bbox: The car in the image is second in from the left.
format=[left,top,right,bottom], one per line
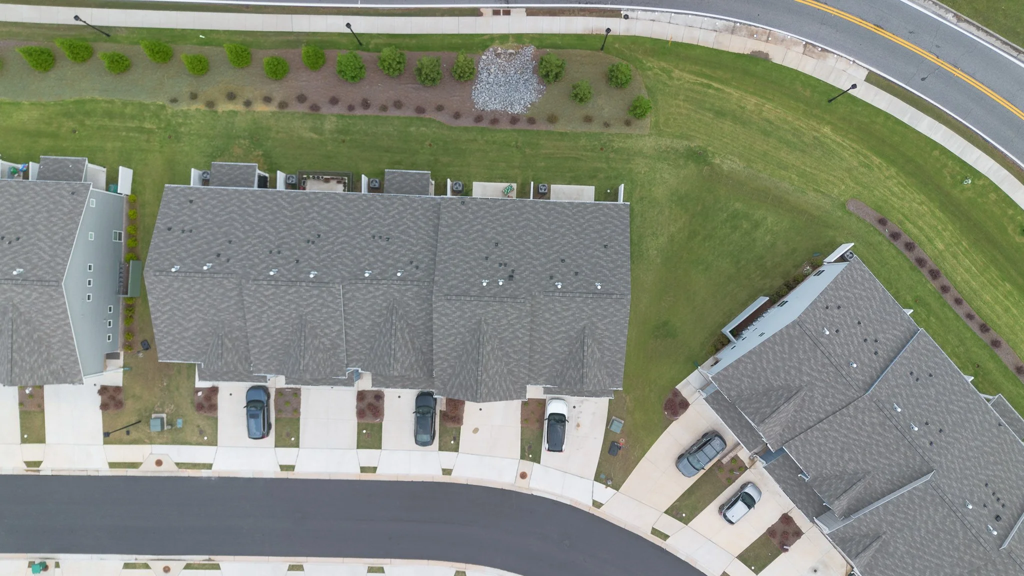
[411,393,438,448]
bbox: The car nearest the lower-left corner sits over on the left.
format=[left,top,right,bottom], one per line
[240,387,271,442]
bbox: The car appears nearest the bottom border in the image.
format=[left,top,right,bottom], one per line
[720,485,763,527]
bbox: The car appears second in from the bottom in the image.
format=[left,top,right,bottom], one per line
[677,432,728,479]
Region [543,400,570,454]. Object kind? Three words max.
car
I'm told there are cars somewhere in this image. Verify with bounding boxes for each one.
[240,387,271,442]
[543,400,570,454]
[411,393,438,448]
[720,485,763,527]
[677,432,728,479]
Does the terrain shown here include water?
No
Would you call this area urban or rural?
urban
